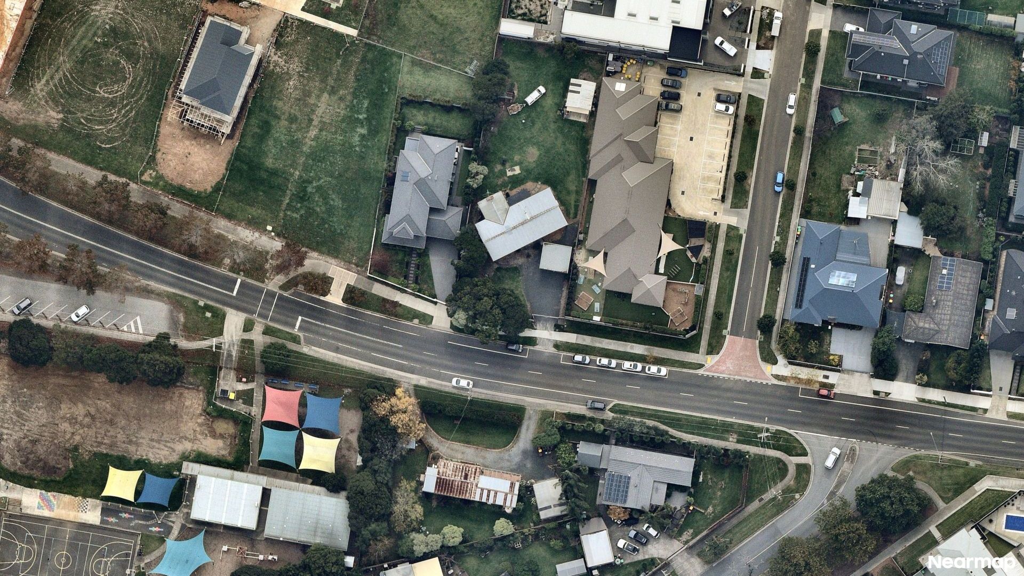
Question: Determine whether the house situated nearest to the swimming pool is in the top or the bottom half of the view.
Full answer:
It is in the bottom half that the house situated nearest to the swimming pool appears.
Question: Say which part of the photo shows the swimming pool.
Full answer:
You can find the swimming pool in the bottom right area of the picture.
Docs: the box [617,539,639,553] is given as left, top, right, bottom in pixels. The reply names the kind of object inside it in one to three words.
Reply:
vehicle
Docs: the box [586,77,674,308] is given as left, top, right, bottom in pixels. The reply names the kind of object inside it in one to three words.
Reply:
building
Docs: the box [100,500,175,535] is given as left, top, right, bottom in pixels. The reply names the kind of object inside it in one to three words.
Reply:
sports court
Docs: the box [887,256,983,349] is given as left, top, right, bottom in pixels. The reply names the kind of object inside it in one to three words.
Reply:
house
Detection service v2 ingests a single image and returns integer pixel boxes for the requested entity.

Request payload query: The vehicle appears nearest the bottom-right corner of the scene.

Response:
[824,446,841,469]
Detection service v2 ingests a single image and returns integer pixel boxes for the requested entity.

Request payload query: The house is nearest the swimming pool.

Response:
[913,528,1005,576]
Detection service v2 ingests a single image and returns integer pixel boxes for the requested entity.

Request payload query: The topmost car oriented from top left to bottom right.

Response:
[715,37,736,56]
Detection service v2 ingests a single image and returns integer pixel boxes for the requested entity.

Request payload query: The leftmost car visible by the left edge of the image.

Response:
[12,297,33,314]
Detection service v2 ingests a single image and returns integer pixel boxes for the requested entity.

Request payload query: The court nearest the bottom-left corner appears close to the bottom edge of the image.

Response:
[0,510,140,576]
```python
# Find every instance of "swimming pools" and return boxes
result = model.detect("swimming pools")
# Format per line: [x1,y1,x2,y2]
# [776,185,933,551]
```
[1002,512,1024,535]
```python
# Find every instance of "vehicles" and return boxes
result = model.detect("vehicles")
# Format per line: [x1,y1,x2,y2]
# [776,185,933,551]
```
[585,400,606,411]
[642,523,660,539]
[770,13,781,36]
[645,365,667,376]
[524,85,545,105]
[716,94,736,103]
[774,172,784,192]
[818,389,834,398]
[595,358,617,368]
[715,37,736,56]
[714,104,733,114]
[824,446,841,469]
[71,305,90,322]
[661,91,680,101]
[629,529,649,545]
[617,539,639,553]
[722,0,743,19]
[571,355,591,365]
[503,342,526,353]
[785,92,796,115]
[661,78,682,89]
[451,378,473,389]
[844,23,863,32]
[621,362,643,372]
[12,297,33,314]
[660,102,681,112]
[667,67,687,77]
